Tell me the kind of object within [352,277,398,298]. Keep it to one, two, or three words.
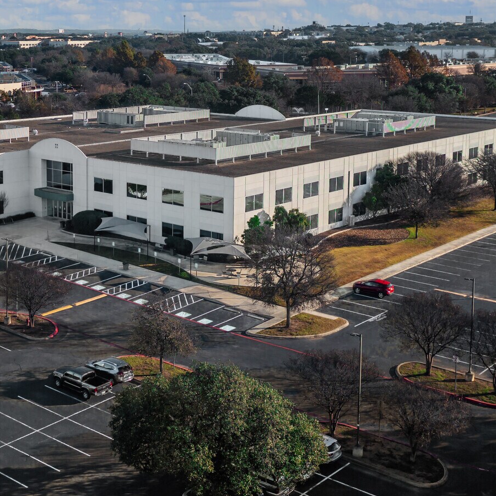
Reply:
car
